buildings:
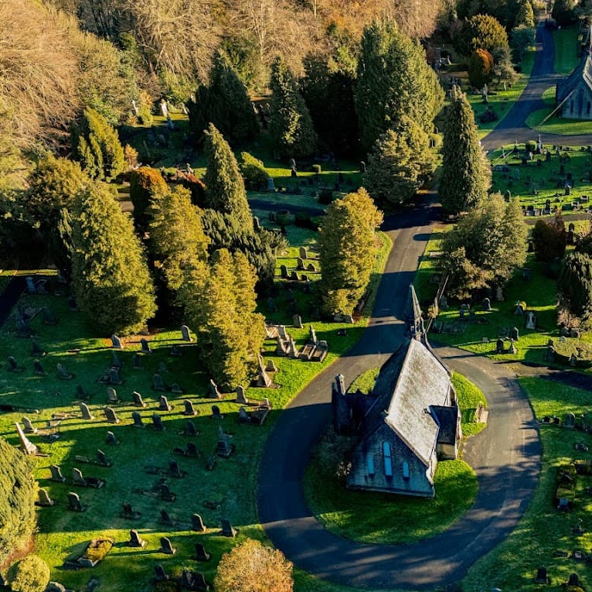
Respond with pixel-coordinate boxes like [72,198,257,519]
[324,276,468,500]
[554,20,592,120]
